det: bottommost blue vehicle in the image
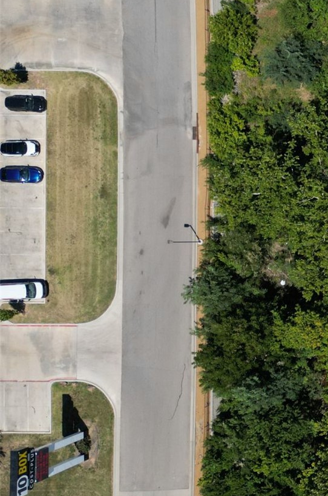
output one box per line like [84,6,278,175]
[3,166,48,184]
